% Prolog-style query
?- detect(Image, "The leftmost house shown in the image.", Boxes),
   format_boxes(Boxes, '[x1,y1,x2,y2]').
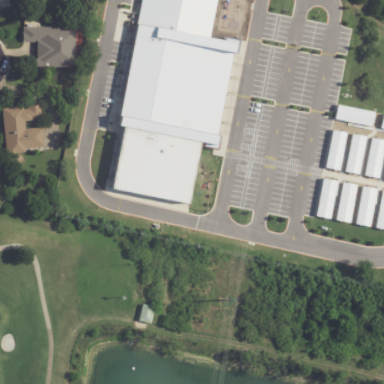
[4,106,46,152]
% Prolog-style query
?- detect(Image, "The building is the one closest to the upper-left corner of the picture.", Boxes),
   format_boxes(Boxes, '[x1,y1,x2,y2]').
[24,27,76,66]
